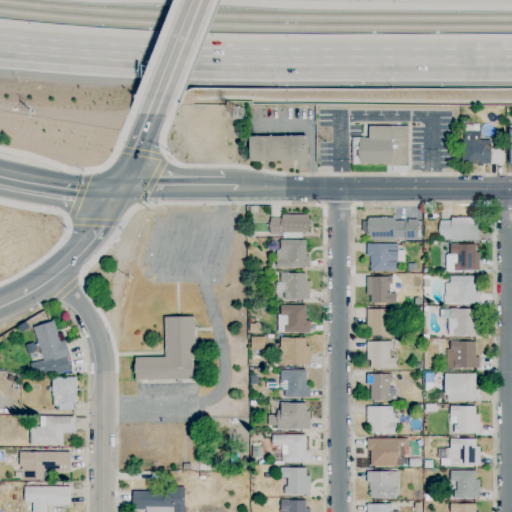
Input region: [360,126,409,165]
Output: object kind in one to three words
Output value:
building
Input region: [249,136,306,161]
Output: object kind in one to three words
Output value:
building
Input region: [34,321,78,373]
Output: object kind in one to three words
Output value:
house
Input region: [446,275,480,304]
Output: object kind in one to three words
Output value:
house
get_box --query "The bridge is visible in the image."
[126,0,220,118]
